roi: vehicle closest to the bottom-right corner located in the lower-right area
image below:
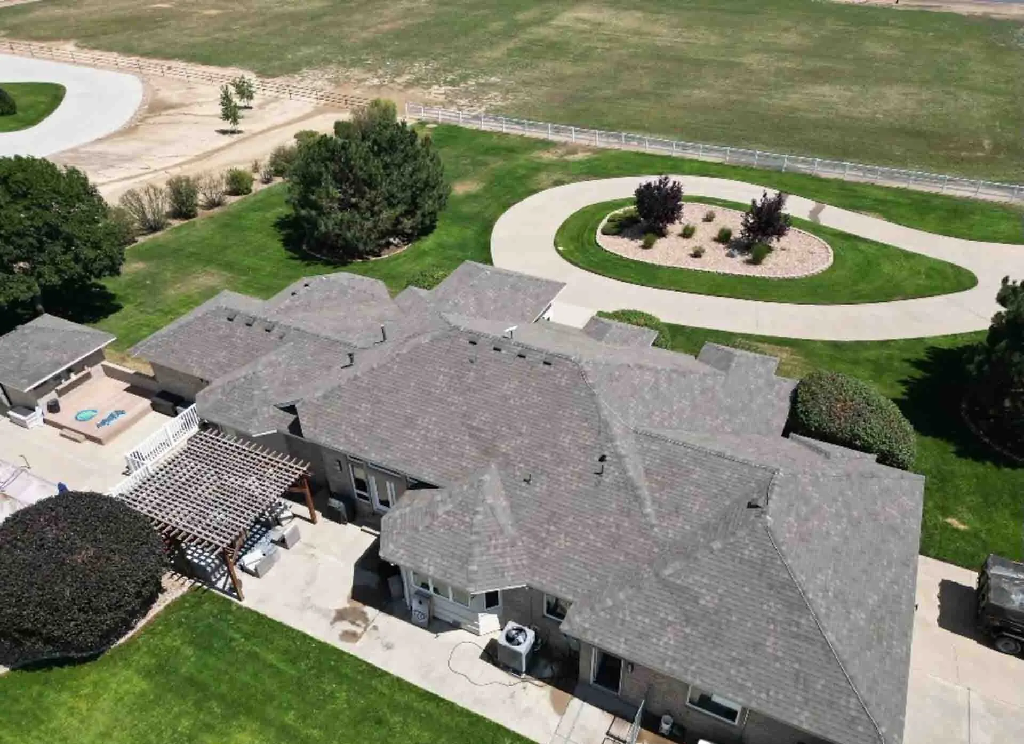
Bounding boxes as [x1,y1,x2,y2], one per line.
[973,562,1024,657]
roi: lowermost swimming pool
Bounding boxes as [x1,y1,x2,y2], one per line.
[0,457,67,511]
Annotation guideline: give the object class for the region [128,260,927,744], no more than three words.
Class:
house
